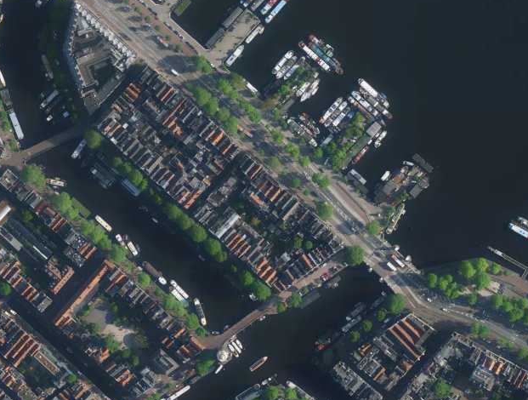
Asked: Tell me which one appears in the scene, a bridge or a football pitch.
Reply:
bridge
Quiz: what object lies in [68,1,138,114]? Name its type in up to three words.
building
